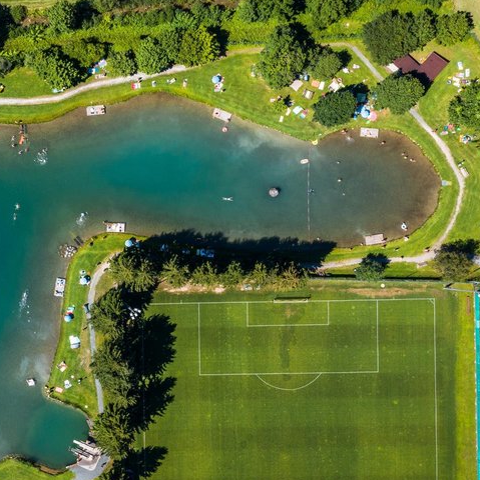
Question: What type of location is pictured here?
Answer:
sports ground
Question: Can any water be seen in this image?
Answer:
Yes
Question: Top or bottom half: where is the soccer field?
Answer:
bottom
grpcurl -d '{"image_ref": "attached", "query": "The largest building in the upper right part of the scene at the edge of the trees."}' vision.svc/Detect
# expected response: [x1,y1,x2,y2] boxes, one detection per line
[393,50,448,84]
